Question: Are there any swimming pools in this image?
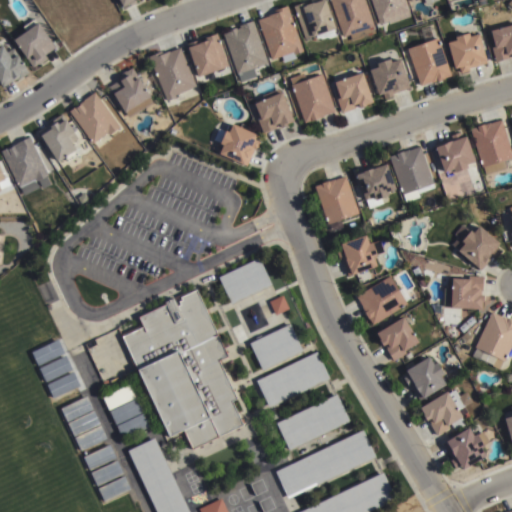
Yes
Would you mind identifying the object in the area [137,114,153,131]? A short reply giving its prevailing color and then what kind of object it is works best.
blue swimming pool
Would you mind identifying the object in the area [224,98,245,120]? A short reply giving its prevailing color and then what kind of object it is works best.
blue swimming pool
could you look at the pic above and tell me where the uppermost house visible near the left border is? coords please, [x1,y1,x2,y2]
[15,20,55,65]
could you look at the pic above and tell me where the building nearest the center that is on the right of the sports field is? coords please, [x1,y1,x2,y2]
[220,260,272,304]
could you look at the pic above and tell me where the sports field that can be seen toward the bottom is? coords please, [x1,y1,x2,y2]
[0,264,141,512]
